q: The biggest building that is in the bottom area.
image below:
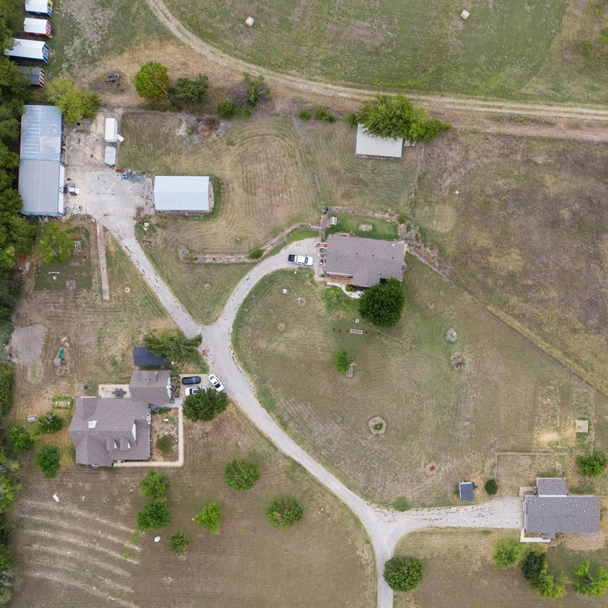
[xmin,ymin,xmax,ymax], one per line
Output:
[69,371,173,467]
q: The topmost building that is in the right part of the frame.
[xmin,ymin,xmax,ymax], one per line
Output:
[356,124,403,160]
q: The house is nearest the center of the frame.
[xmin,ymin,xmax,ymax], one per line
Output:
[320,232,406,287]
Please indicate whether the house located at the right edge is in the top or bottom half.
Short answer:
bottom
